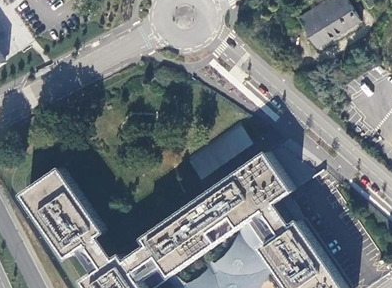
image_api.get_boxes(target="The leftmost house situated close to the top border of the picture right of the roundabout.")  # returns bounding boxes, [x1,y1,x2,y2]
[300,0,363,50]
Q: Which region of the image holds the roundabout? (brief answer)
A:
top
